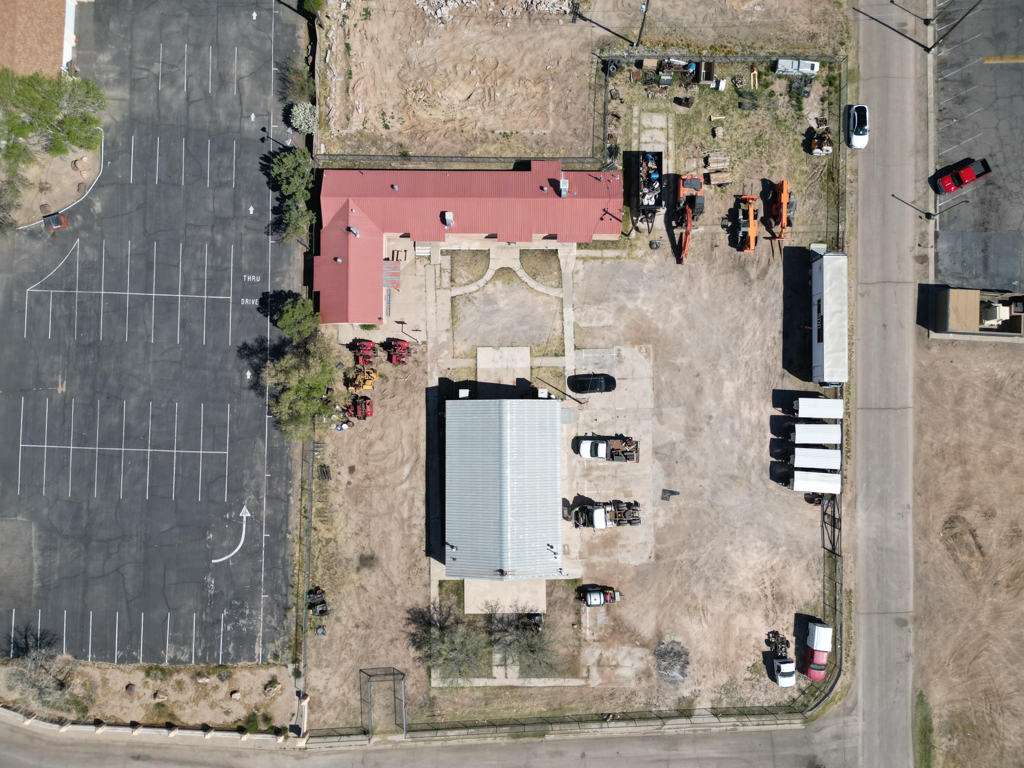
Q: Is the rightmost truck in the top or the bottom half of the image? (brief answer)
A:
top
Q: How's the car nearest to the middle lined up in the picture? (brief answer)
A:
from side to side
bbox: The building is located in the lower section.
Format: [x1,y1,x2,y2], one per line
[445,389,566,580]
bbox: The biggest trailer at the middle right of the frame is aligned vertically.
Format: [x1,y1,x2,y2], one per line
[808,253,848,387]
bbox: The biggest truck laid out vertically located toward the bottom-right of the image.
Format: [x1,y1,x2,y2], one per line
[808,623,838,681]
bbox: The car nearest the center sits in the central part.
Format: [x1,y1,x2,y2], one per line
[573,373,617,395]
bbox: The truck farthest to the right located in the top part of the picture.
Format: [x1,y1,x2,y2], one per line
[936,156,998,197]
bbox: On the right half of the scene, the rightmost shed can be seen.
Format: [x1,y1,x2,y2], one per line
[934,289,980,333]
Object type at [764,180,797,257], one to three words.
work vehicle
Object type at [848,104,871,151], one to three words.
car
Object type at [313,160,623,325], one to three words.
building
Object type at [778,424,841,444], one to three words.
trailer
